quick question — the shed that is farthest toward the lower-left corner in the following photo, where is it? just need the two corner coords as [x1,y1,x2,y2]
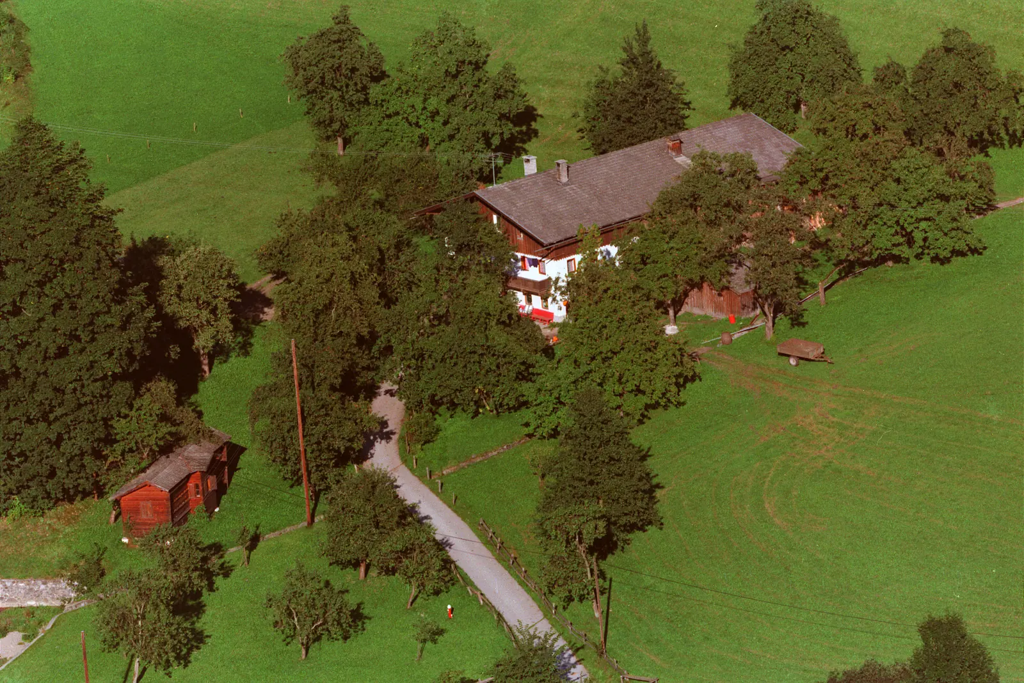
[106,430,242,537]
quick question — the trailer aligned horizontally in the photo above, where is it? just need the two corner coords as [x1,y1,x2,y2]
[776,340,835,366]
